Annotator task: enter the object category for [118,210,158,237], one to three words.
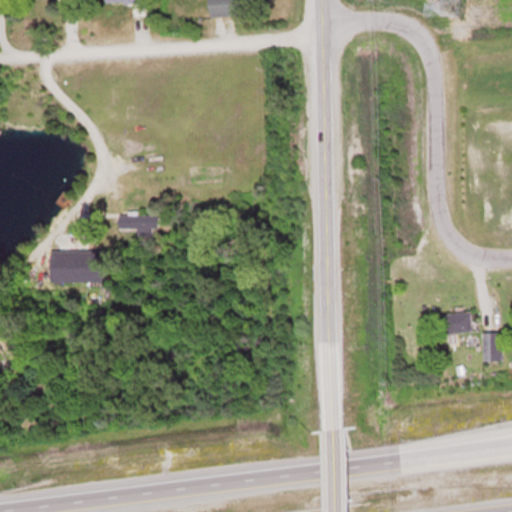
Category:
house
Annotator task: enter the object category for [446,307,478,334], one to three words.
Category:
house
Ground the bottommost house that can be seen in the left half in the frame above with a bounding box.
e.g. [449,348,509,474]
[50,250,104,284]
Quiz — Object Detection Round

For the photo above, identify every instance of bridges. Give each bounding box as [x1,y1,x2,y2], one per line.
[311,426,356,512]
